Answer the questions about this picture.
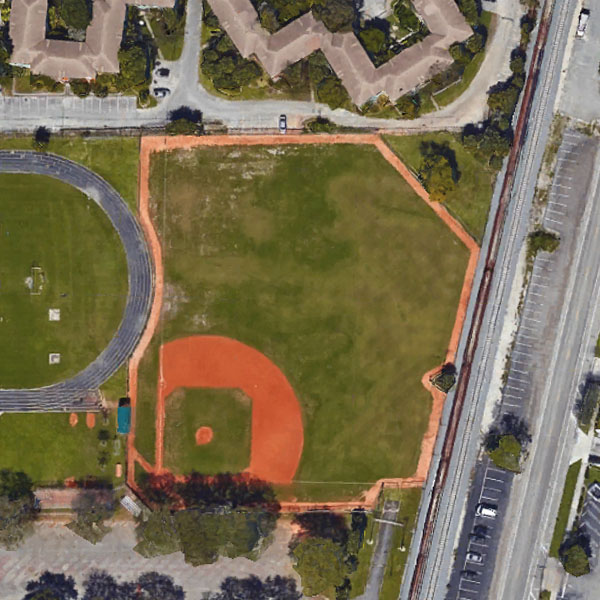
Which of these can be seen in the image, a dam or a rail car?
rail car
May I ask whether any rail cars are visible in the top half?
Yes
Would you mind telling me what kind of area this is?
sports ground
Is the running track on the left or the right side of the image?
left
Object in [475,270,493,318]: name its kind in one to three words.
rail car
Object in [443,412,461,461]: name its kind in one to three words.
rail car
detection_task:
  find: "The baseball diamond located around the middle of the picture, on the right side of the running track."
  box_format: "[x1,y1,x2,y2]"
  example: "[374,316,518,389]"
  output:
[127,134,481,513]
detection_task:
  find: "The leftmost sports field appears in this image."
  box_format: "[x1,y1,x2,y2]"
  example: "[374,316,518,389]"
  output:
[0,173,130,389]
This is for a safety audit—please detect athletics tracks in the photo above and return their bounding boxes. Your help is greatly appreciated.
[0,151,152,412]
